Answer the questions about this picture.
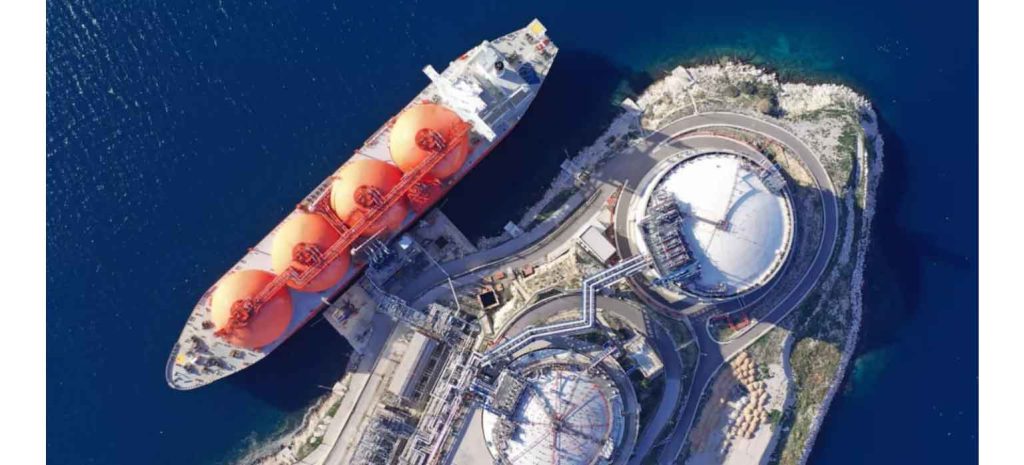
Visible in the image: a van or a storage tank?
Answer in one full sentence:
Looking from above, you can make out a storage tank.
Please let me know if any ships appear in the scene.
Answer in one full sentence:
Yes, a ship can be made out from above.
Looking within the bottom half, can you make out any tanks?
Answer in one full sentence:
Yes, within the bottom half there is a tank.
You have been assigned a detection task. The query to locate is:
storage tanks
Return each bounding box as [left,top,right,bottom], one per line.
[466,343,626,465]
[631,147,796,304]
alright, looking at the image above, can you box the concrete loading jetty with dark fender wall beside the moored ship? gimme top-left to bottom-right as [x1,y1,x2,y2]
[322,207,478,362]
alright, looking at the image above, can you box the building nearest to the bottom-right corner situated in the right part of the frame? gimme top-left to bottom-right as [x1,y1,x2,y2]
[622,334,663,379]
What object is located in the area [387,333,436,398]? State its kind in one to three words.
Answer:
shed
